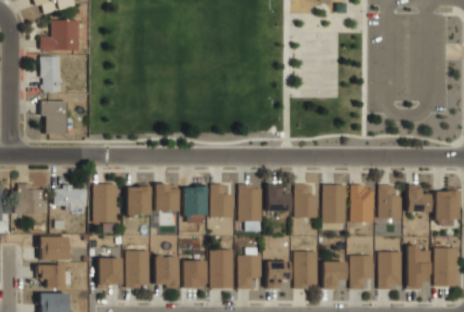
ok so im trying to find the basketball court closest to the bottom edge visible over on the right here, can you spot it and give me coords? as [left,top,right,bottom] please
[298,33,340,98]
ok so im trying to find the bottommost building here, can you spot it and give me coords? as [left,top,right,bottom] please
[42,294,72,312]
